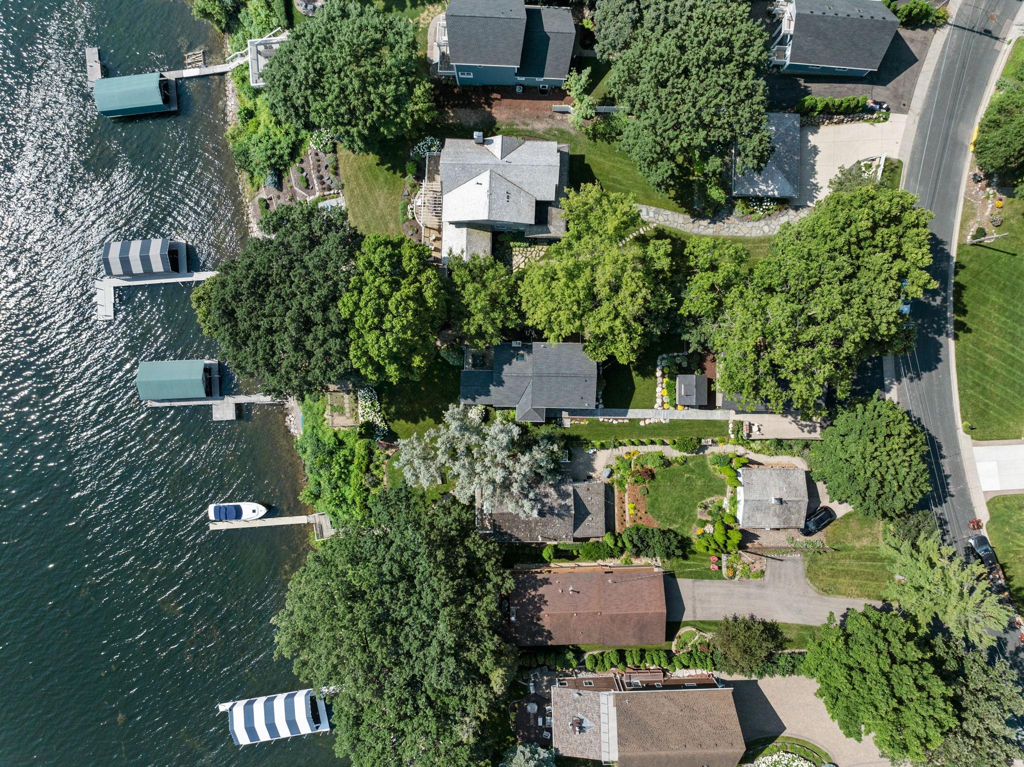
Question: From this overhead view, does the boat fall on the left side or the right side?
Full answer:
You can find the boat on the left side of the picture.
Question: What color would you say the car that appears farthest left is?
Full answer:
The car that appears farthest left is black.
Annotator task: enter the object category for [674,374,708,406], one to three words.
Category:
shed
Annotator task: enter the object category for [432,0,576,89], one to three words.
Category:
house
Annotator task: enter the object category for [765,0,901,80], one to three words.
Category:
house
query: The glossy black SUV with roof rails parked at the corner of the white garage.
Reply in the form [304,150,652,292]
[797,502,839,538]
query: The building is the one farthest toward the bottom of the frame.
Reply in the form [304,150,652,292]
[551,662,746,767]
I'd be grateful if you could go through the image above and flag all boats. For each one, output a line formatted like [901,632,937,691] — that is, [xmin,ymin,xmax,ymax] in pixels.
[204,503,267,523]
